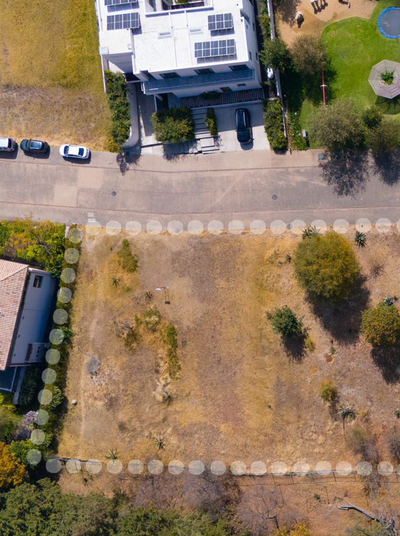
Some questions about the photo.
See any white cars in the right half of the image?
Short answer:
No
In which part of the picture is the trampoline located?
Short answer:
top right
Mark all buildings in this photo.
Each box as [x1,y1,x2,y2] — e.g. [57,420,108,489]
[97,0,266,103]
[0,259,51,403]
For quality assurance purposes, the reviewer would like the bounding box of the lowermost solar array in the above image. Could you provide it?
[194,39,235,58]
